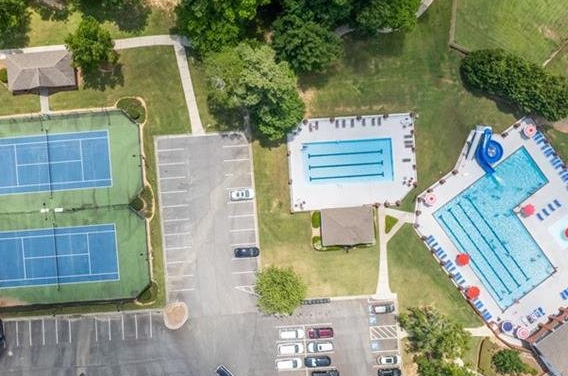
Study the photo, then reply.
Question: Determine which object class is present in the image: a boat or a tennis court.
tennis court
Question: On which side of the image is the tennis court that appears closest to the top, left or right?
left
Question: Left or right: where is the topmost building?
left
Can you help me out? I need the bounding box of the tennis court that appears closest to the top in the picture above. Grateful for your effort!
[0,110,143,214]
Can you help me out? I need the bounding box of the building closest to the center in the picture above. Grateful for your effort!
[320,205,375,246]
